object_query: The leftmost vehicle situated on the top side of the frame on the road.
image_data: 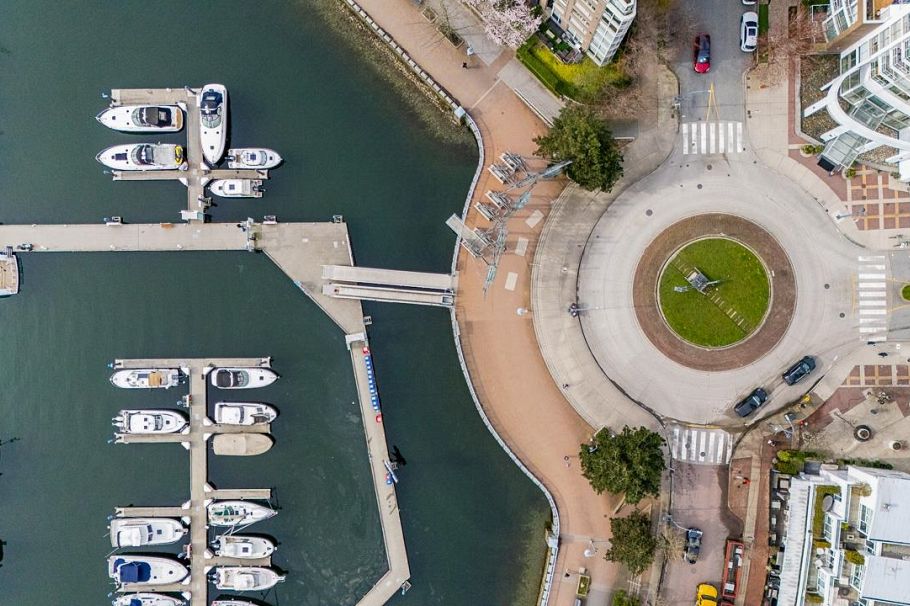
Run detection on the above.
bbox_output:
[693,33,713,75]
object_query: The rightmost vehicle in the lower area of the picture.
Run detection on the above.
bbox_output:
[778,355,817,387]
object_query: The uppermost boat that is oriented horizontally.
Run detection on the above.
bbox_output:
[93,104,188,134]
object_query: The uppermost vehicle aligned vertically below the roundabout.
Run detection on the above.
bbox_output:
[682,525,703,565]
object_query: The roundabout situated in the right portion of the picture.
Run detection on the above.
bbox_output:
[632,211,798,372]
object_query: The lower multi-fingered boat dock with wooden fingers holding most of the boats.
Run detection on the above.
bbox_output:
[108,358,275,606]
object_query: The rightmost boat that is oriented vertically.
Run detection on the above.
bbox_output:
[199,83,230,164]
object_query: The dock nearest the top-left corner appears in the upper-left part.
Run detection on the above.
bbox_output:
[103,86,269,224]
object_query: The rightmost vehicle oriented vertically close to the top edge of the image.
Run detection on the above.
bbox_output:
[738,12,758,53]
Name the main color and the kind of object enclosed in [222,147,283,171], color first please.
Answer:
white boat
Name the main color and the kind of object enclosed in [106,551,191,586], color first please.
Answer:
white boat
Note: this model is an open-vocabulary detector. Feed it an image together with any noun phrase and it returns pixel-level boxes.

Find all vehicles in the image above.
[682,525,703,565]
[730,386,770,419]
[739,0,756,5]
[697,584,717,606]
[738,12,758,53]
[778,355,817,387]
[718,538,746,606]
[693,33,713,75]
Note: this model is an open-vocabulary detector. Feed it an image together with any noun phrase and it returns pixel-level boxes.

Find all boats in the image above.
[106,551,191,586]
[113,590,182,606]
[205,178,269,200]
[94,142,188,172]
[172,146,179,167]
[222,147,283,171]
[209,498,279,531]
[106,367,185,389]
[212,366,278,390]
[92,515,192,562]
[210,533,278,562]
[211,432,274,457]
[199,83,230,164]
[253,414,274,426]
[211,564,286,594]
[0,243,25,295]
[114,407,192,435]
[93,104,188,134]
[215,400,277,427]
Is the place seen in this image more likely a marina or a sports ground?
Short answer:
marina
